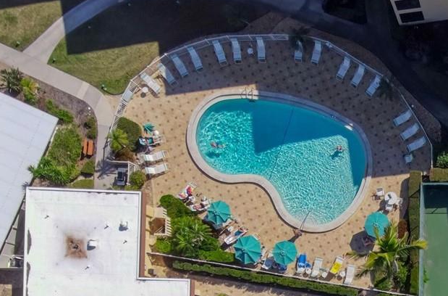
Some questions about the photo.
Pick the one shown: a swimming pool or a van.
swimming pool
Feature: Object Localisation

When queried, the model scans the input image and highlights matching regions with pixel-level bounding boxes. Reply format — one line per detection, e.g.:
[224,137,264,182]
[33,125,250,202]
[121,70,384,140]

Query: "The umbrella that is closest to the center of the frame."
[207,202,233,227]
